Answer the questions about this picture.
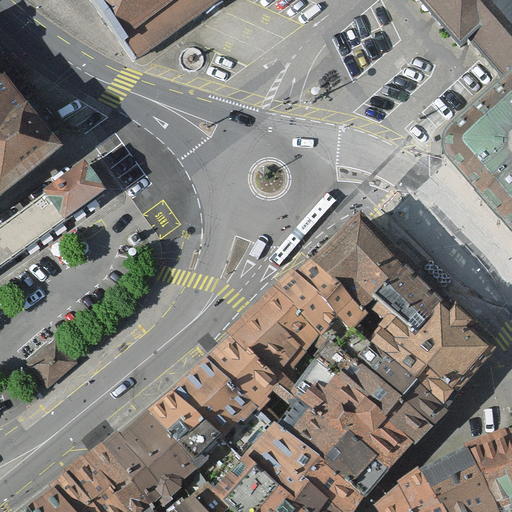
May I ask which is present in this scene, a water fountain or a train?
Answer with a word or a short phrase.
water fountain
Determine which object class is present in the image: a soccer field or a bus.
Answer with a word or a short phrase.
bus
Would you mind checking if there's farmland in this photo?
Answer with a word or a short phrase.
No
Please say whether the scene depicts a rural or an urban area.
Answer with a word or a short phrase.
urban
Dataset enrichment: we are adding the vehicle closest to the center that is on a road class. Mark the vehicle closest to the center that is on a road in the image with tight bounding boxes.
[248,234,269,260]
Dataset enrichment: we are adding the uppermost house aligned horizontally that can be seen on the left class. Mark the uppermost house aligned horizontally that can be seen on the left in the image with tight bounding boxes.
[105,0,178,30]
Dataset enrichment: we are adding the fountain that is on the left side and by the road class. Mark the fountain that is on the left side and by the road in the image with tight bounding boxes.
[174,42,208,76]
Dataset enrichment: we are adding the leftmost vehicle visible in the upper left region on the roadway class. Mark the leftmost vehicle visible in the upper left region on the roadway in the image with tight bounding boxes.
[56,98,82,118]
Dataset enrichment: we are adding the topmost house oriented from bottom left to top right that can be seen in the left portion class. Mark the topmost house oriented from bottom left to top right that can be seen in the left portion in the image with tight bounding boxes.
[129,0,224,60]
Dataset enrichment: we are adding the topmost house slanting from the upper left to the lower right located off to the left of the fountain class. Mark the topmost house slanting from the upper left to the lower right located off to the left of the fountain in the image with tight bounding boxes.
[94,0,134,58]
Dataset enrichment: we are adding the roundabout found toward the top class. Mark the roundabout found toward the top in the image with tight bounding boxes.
[248,157,292,201]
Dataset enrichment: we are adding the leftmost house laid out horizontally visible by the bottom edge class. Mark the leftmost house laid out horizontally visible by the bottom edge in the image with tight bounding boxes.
[21,482,84,512]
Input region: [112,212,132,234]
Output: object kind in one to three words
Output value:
car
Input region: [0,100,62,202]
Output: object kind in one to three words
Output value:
house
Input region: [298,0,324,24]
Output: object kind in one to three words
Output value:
vehicle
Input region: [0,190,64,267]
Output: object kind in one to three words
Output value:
building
